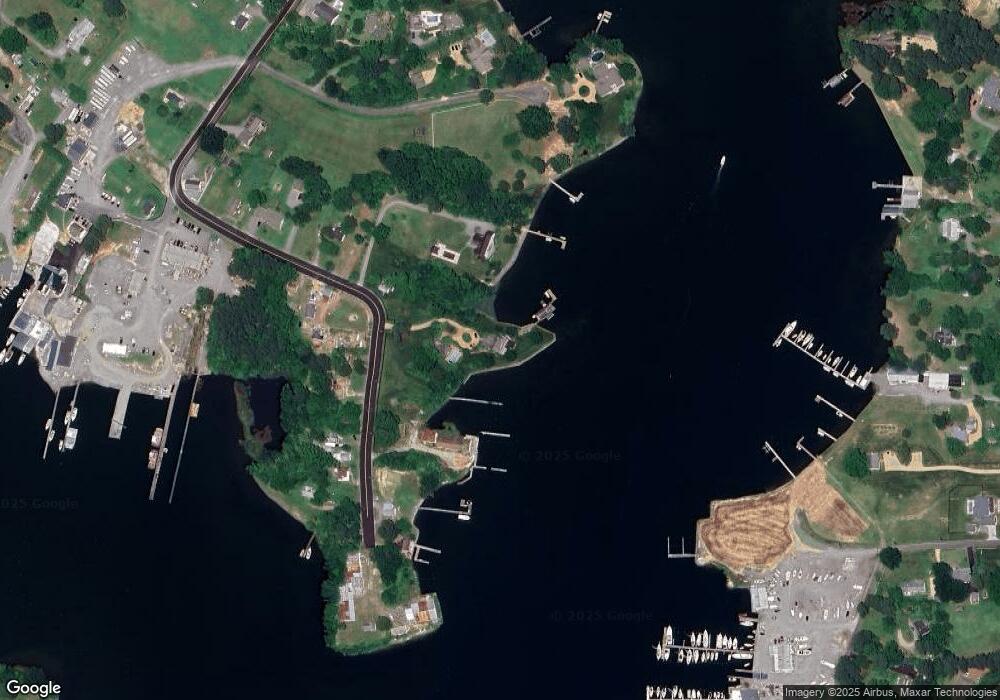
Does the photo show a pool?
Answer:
Yes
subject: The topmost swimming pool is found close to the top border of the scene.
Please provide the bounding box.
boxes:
[421,11,442,27]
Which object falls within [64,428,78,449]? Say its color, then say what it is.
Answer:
white boat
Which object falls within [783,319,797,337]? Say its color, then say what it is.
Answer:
white boat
